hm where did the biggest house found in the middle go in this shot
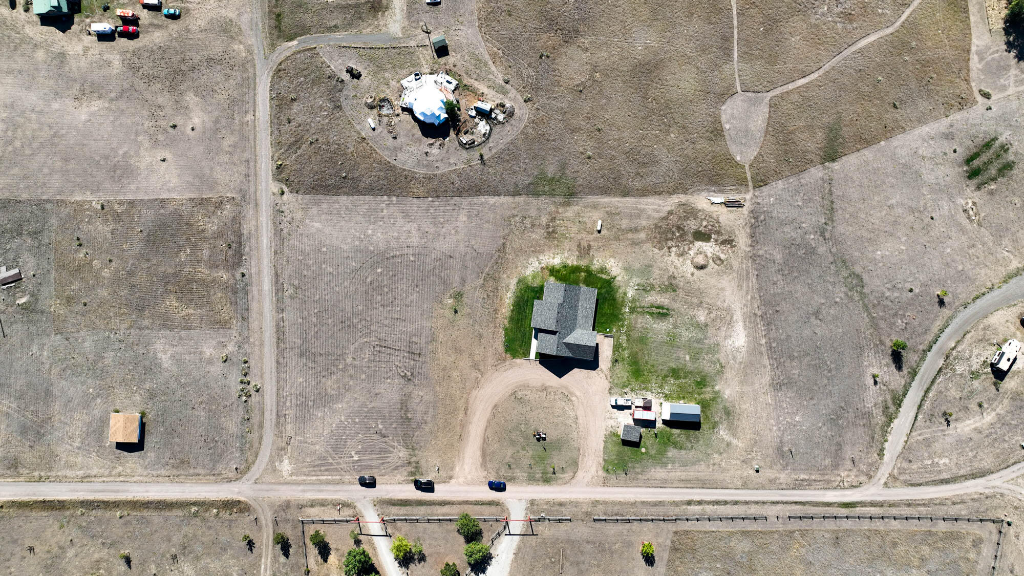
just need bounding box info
[530,282,598,360]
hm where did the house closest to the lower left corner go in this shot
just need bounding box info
[110,412,145,443]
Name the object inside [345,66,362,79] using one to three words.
vehicle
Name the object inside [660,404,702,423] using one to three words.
barn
